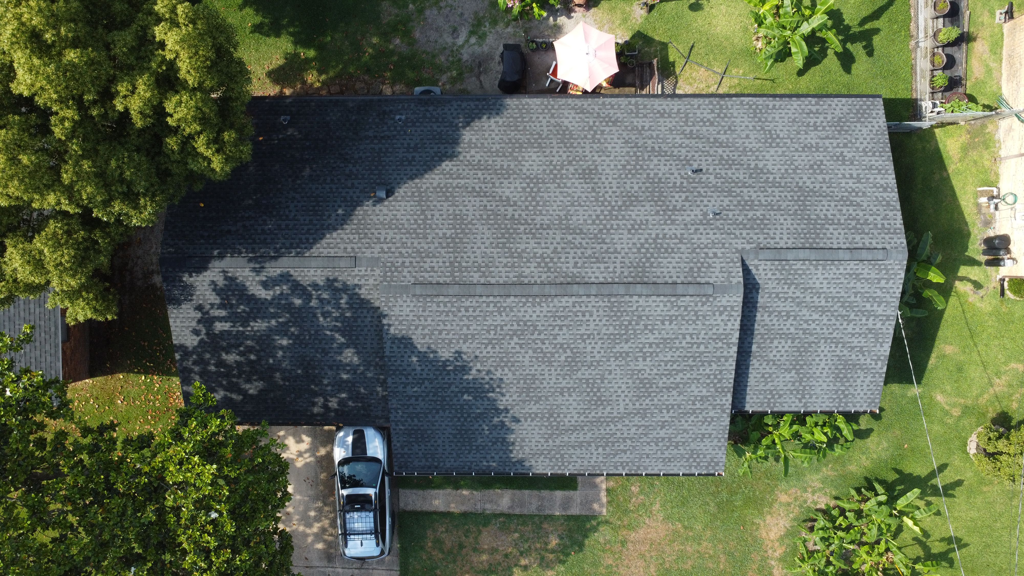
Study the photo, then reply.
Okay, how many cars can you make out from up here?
1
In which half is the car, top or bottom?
bottom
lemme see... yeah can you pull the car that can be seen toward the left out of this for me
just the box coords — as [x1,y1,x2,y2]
[328,429,398,565]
